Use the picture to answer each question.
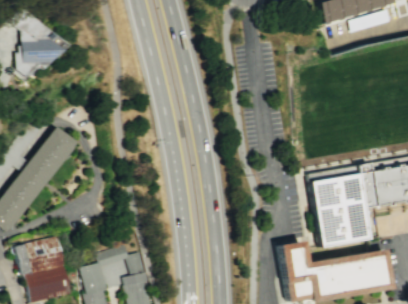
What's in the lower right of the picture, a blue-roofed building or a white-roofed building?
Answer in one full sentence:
You can see a white-roofed building in the lower right of the picture.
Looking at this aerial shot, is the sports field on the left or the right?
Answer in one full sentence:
The sports field sits on the right side.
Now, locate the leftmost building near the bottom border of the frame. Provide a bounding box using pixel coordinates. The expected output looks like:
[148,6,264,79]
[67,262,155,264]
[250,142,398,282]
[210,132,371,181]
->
[16,238,69,304]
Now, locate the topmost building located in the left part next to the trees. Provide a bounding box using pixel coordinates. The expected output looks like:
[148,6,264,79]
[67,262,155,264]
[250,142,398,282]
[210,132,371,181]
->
[16,15,71,78]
